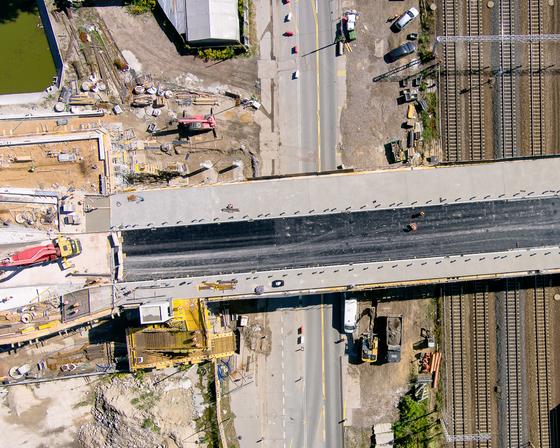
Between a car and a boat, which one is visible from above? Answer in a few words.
car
